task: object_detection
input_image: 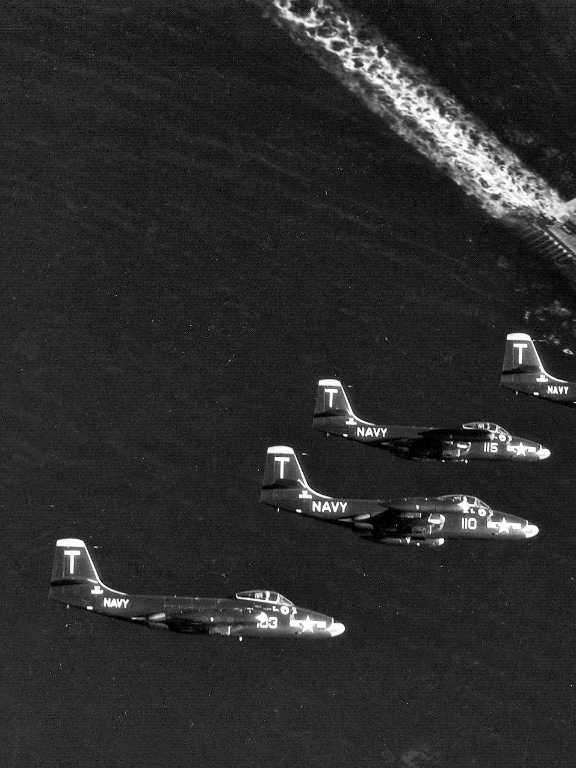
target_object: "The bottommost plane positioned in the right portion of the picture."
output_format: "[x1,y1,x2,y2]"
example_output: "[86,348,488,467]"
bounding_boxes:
[259,445,538,548]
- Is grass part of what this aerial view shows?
No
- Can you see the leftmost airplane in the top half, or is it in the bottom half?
bottom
